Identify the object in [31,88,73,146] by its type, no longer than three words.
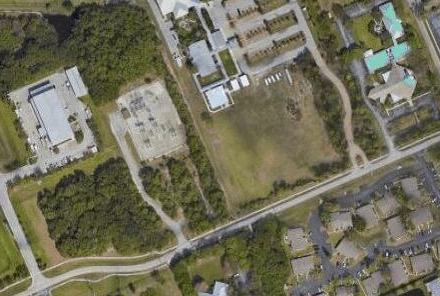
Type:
building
